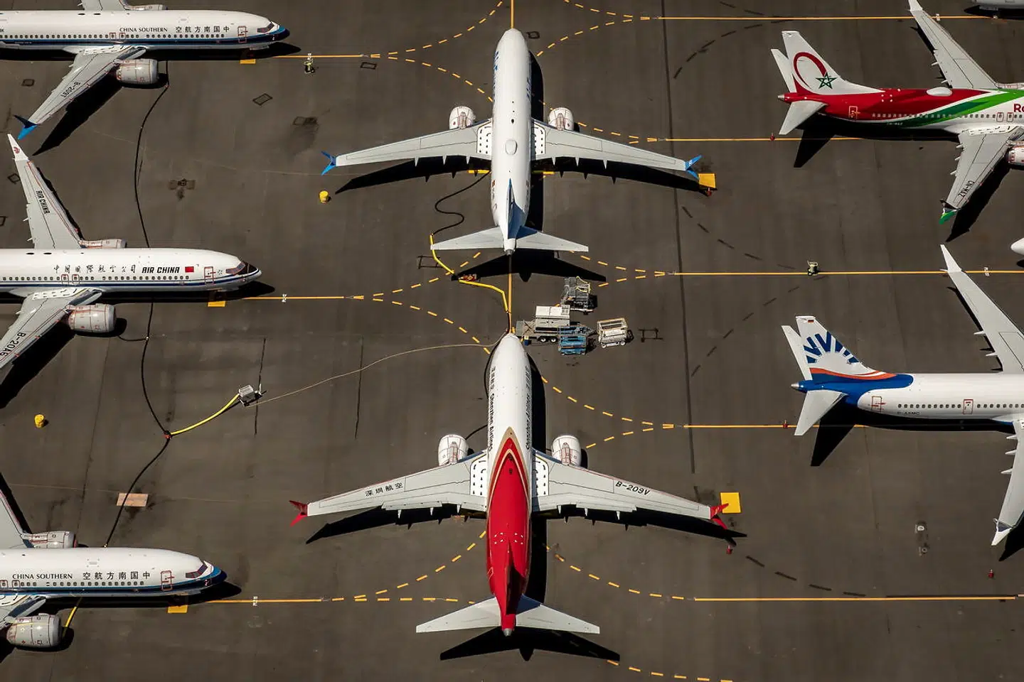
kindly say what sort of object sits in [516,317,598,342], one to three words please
trailer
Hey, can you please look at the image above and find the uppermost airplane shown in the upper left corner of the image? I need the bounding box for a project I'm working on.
[0,0,289,136]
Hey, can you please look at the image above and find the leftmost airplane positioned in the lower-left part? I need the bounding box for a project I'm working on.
[0,483,227,646]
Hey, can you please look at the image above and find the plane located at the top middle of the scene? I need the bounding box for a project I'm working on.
[321,29,702,257]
